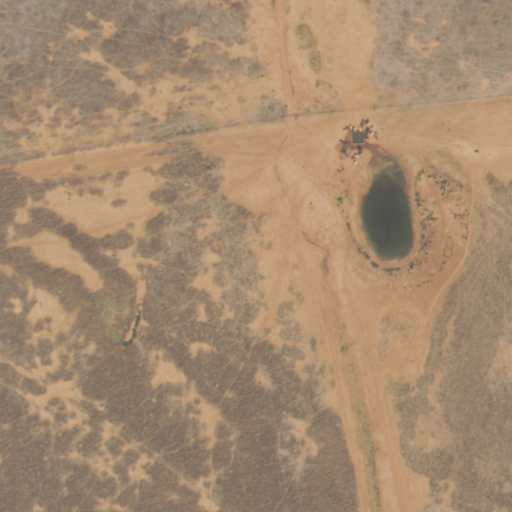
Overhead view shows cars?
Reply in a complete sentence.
No, I can see no car in this picture.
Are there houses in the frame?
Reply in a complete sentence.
No, there appears to be no house in this shot.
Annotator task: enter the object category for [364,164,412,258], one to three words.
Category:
pond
